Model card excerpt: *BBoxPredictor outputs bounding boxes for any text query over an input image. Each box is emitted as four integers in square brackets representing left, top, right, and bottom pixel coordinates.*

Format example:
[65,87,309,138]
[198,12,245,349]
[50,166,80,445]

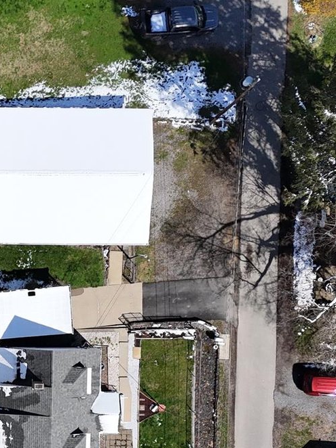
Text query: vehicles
[138,1,219,38]
[299,373,336,399]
